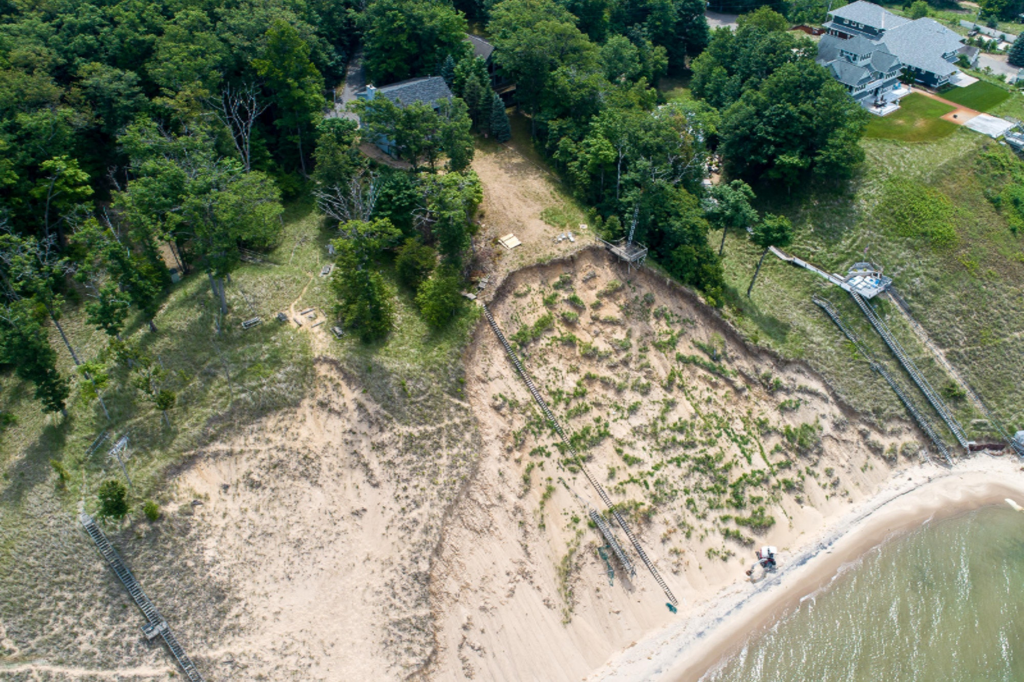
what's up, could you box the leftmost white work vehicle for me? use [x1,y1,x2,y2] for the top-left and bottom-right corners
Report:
[745,545,781,580]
